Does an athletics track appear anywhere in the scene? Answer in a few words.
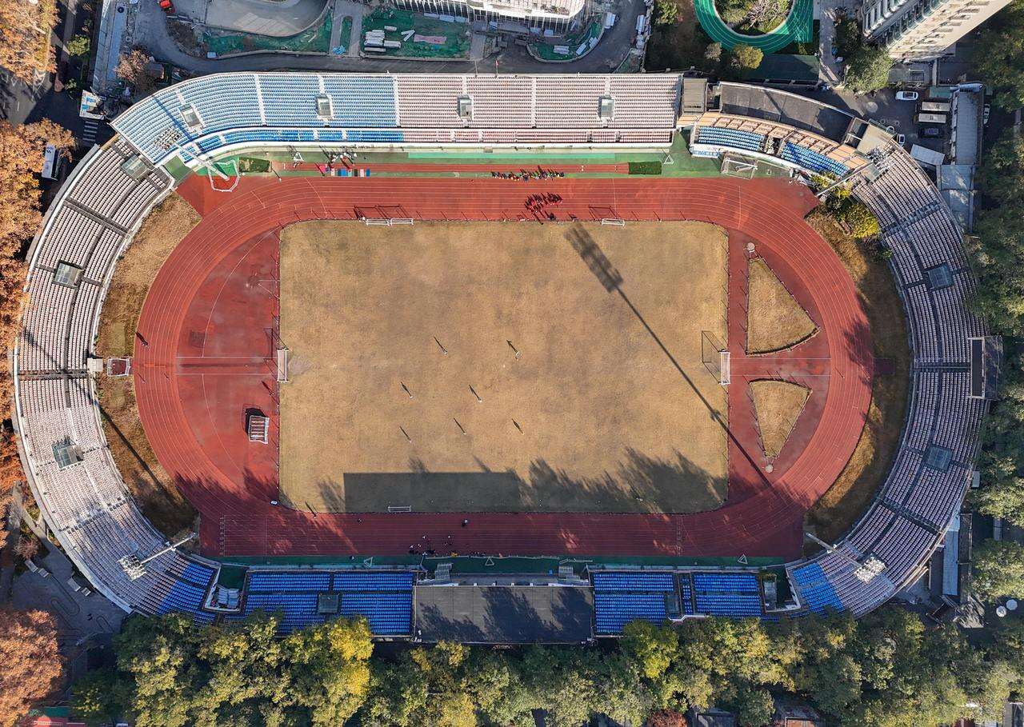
Yes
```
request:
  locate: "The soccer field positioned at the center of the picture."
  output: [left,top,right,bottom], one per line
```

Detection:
[280,223,728,512]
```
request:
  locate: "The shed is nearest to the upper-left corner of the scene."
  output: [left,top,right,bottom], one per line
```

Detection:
[138,55,164,75]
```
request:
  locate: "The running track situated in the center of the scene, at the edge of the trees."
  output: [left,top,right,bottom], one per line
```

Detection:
[136,175,895,561]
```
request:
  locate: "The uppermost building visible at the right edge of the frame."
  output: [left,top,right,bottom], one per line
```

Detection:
[862,0,1013,63]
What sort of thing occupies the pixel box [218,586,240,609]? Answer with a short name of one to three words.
shed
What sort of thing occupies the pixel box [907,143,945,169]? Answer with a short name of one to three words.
shed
